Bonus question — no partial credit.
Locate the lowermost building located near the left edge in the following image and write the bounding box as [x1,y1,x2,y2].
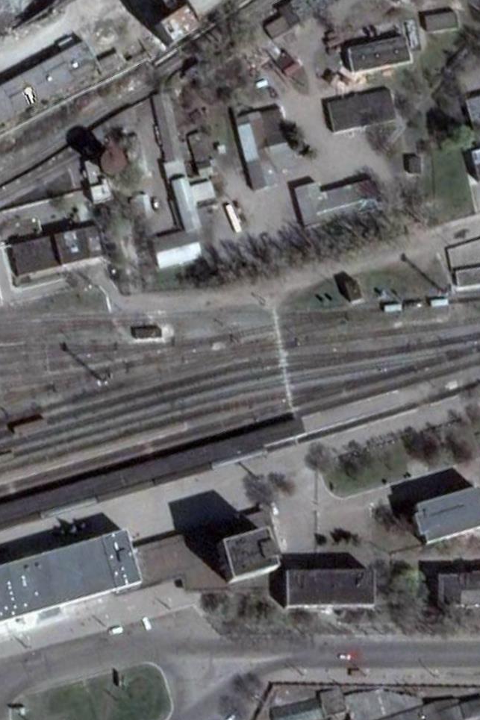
[0,530,142,625]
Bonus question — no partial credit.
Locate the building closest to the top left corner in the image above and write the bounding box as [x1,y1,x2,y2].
[0,34,97,124]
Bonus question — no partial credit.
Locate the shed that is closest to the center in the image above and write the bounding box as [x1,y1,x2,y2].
[134,325,161,339]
